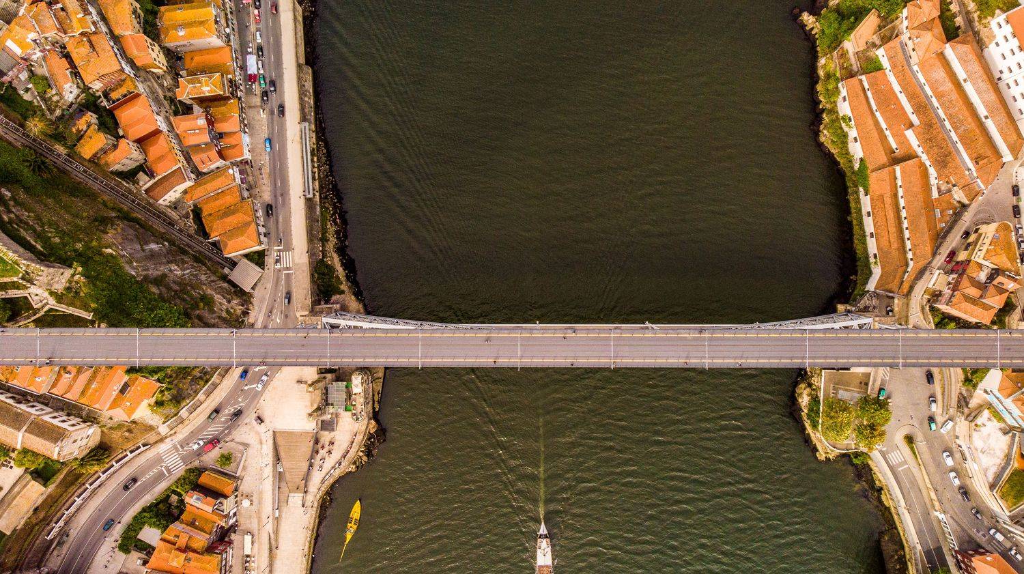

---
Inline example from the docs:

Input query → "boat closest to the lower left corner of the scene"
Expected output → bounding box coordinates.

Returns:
[340,500,360,562]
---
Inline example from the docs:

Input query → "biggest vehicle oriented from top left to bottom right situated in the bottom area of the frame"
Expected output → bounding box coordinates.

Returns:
[993,529,1014,551]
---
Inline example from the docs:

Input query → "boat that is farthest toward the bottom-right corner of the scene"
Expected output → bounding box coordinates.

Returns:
[532,524,553,574]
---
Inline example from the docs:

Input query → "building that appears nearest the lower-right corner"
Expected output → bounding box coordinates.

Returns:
[952,542,1016,574]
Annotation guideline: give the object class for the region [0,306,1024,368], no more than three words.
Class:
bridge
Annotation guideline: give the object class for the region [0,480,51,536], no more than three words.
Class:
shed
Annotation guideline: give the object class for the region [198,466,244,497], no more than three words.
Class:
house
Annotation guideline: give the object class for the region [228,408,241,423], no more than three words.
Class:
vehicle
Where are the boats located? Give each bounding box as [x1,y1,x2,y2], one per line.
[532,524,553,574]
[340,500,360,562]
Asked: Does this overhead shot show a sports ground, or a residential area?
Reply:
residential area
